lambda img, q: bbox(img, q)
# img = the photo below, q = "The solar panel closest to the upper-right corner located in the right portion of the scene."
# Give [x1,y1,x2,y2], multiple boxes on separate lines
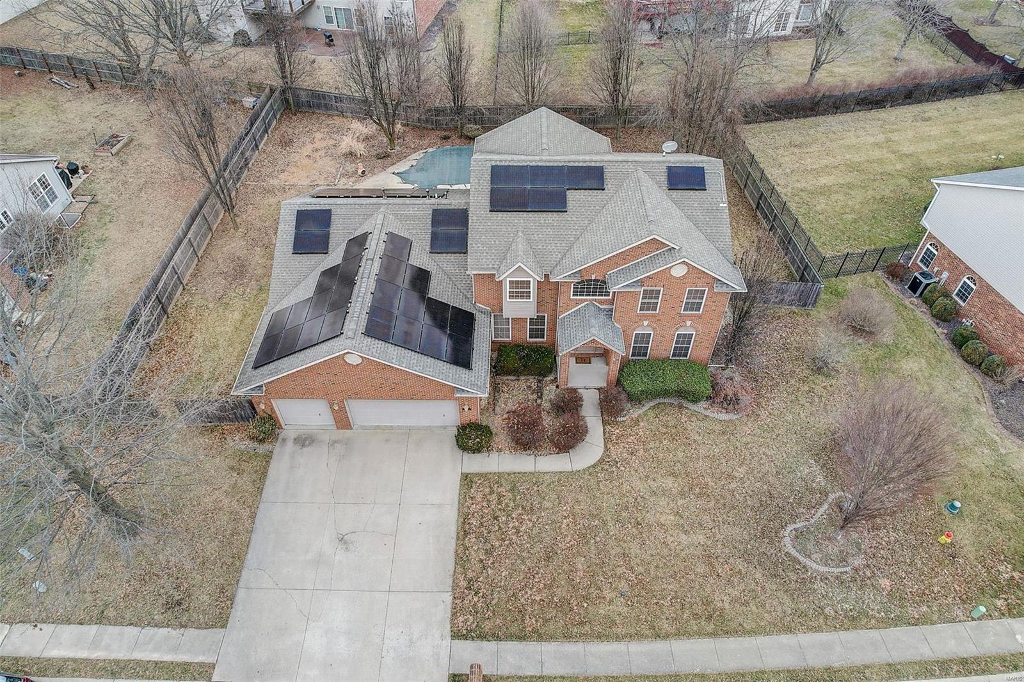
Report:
[667,167,705,192]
